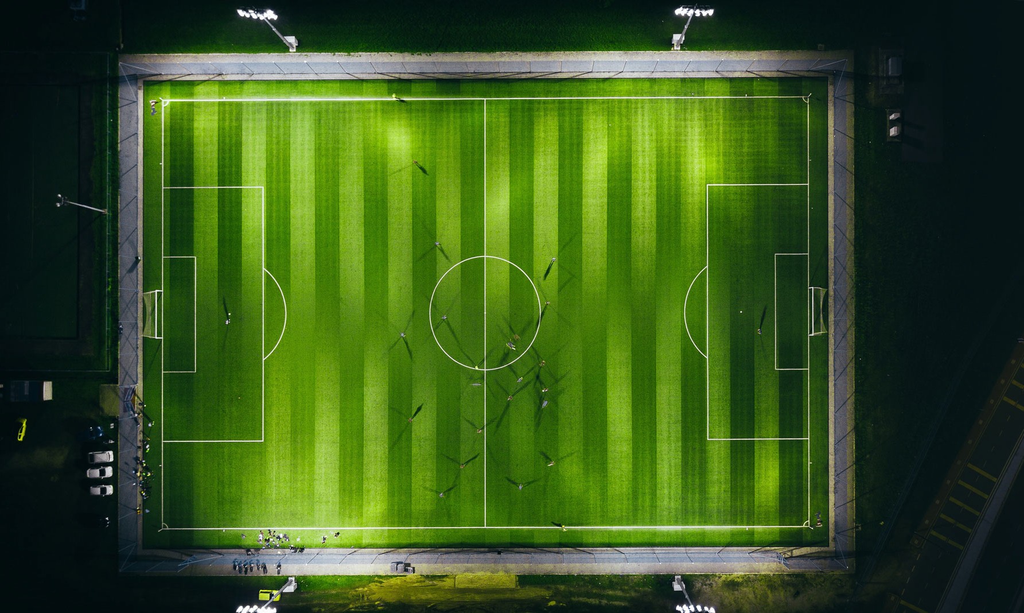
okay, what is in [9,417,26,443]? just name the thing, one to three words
car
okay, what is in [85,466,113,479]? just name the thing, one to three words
vehicle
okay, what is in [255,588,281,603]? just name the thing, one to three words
vehicle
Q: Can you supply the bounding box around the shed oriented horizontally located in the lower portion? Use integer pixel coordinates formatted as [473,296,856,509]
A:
[3,380,52,402]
